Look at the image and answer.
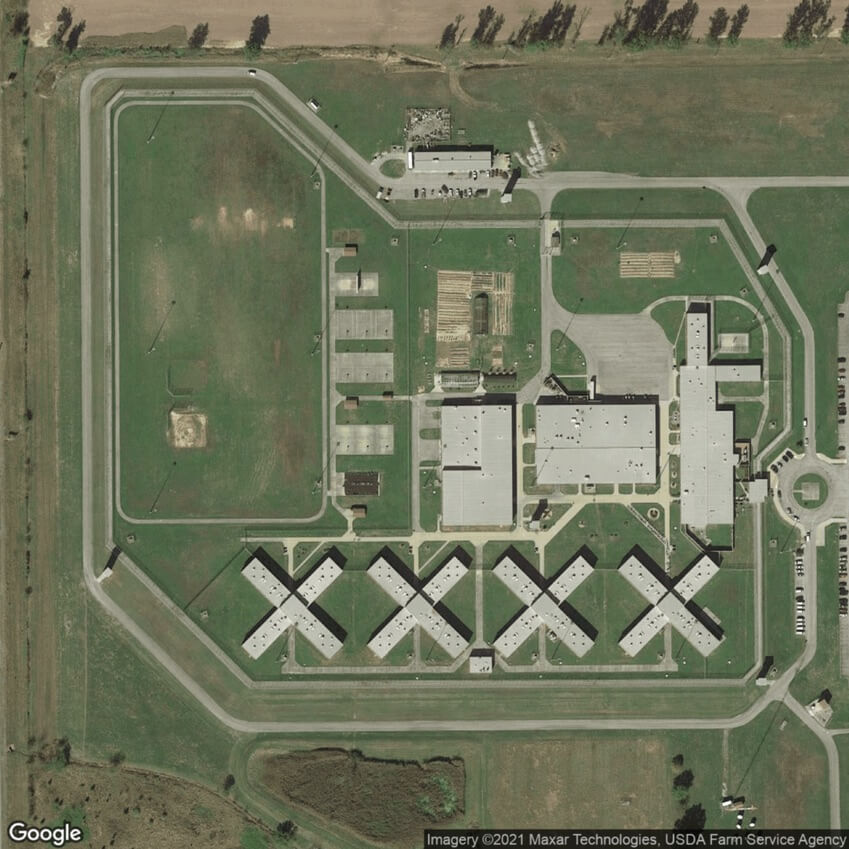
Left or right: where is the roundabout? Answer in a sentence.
The roundabout is on the right side of the image.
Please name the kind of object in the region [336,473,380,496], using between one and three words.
building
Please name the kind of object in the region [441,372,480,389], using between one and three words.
greenhouse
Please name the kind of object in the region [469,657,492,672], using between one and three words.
building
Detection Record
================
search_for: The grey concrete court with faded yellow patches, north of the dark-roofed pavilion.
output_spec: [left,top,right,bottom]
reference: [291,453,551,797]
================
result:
[335,425,394,455]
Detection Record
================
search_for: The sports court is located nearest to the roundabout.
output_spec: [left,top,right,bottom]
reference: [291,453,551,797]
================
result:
[719,334,749,352]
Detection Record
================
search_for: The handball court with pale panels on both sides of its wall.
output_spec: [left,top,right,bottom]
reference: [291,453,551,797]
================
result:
[335,273,378,296]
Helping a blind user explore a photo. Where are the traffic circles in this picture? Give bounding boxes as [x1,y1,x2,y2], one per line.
[776,454,849,527]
